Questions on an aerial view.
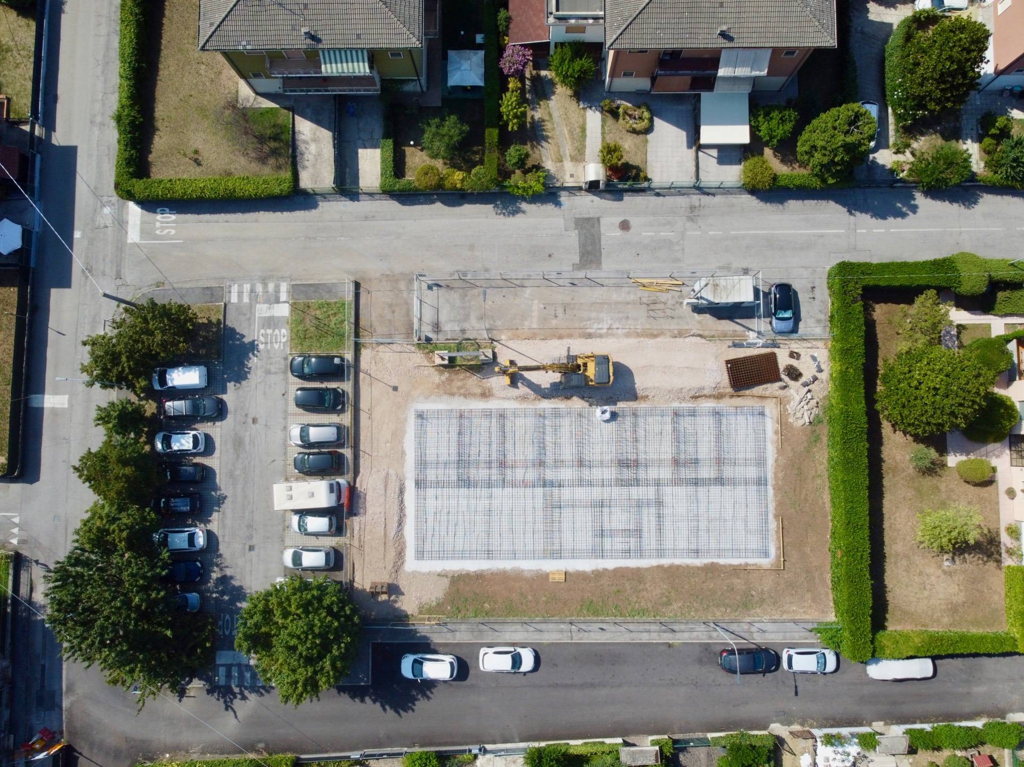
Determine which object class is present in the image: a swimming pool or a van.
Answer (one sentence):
This aerial view contains a van.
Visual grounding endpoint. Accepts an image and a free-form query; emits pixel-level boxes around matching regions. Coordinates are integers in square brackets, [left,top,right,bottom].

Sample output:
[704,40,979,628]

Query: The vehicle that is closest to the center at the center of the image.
[497,347,617,390]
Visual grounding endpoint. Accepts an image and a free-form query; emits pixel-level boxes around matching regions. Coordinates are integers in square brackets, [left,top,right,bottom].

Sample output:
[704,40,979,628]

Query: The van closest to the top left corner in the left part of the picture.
[152,363,210,391]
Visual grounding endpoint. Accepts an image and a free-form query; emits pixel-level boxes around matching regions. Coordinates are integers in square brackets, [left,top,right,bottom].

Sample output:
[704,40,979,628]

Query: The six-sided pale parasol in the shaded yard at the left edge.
[0,219,25,253]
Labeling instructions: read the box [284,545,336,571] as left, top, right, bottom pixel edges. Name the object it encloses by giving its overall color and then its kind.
white car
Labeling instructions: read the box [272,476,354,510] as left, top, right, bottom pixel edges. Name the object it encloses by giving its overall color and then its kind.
white van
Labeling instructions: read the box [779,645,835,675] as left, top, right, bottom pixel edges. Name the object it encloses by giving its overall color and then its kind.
white car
